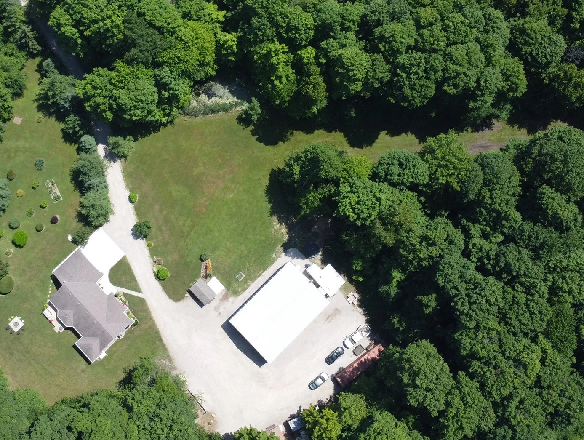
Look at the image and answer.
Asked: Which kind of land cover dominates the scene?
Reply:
trees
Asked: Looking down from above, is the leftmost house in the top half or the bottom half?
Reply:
bottom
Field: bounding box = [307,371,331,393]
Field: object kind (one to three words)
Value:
car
